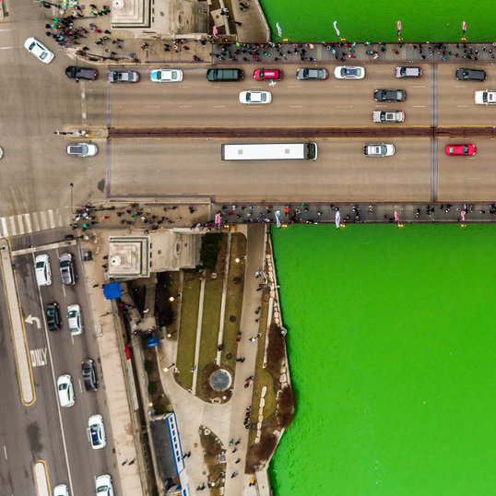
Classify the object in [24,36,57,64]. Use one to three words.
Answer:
car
